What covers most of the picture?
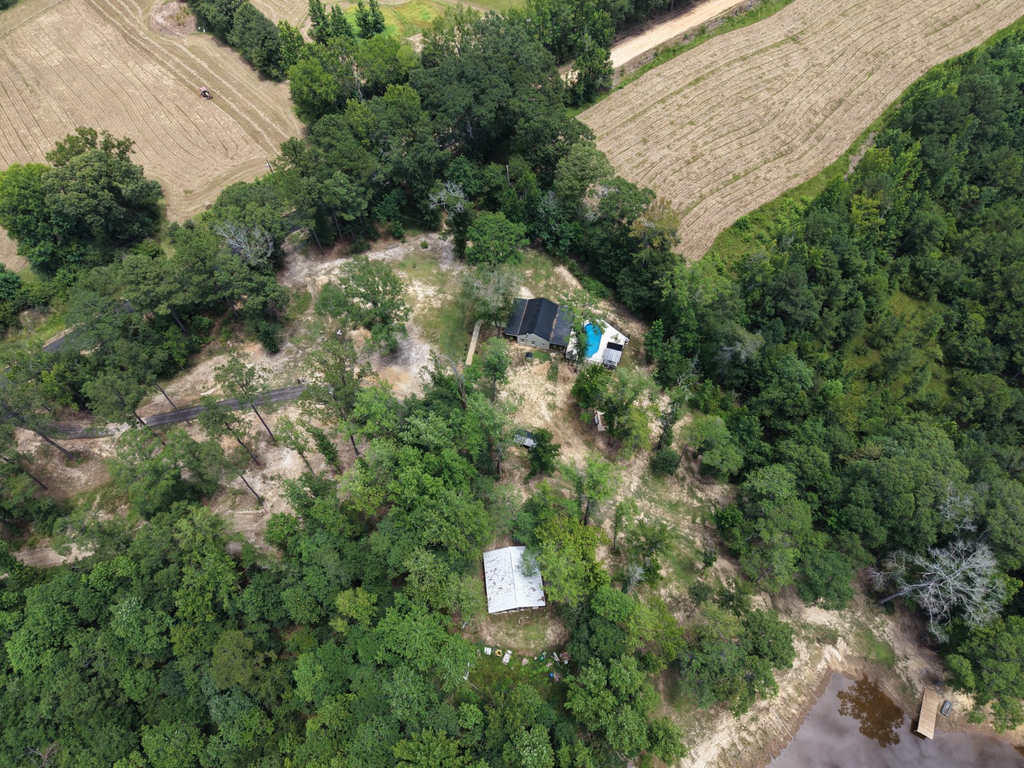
trees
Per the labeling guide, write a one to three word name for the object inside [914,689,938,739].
pier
